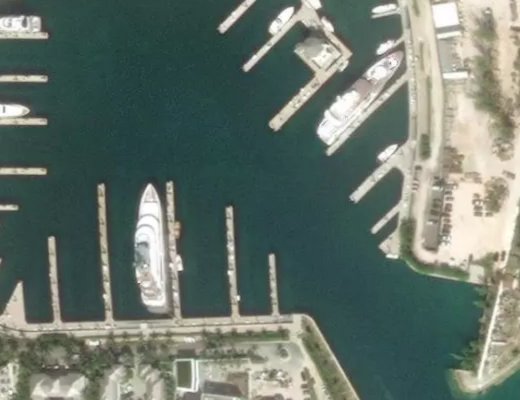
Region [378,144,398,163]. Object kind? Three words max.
boat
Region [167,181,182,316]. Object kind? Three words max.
pier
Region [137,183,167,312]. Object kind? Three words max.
boat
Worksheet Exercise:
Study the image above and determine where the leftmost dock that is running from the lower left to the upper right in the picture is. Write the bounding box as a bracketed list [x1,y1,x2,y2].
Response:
[218,0,259,35]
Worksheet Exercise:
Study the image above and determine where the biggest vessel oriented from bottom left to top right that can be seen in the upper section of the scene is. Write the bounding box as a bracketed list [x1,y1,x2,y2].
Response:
[316,51,401,145]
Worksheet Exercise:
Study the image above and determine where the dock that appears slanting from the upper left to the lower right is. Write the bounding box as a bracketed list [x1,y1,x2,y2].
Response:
[295,0,352,54]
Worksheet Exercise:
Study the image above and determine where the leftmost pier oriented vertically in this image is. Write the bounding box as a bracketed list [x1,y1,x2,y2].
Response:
[48,236,61,319]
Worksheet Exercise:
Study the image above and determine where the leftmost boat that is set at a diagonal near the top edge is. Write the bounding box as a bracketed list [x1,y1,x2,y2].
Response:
[268,8,294,36]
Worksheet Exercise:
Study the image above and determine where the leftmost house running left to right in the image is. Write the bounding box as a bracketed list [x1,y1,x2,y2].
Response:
[26,370,92,400]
